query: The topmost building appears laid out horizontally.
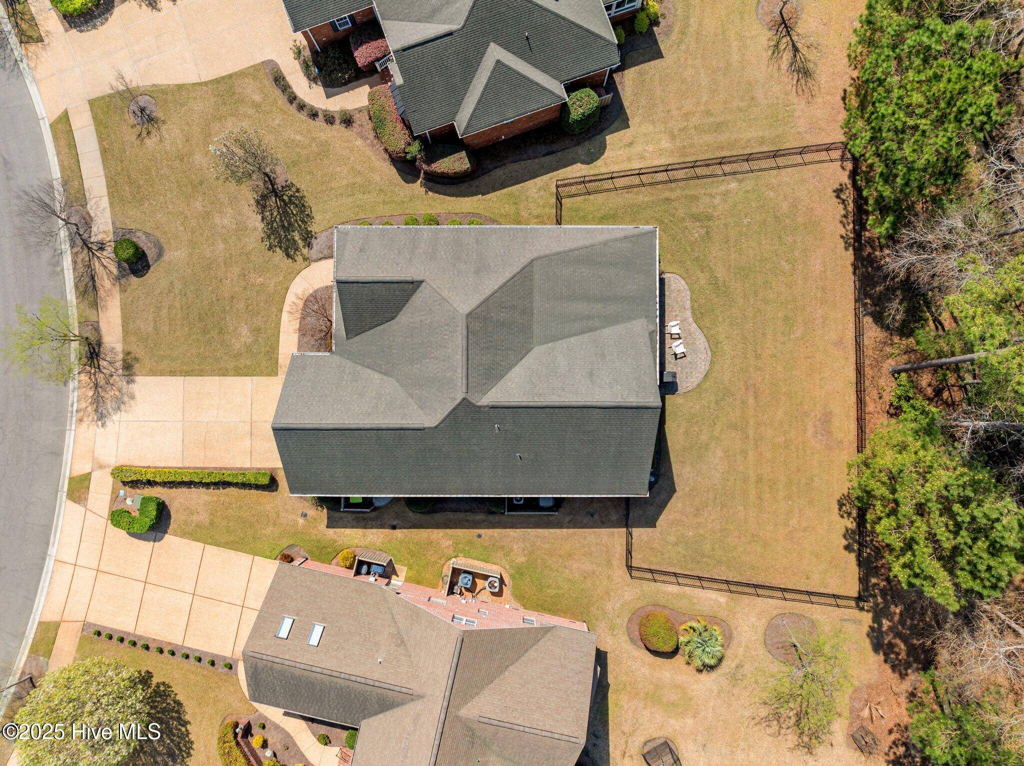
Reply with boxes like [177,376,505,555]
[282,0,623,148]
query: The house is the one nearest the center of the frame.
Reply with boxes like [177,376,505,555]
[272,226,661,498]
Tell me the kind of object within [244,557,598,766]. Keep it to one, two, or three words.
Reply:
house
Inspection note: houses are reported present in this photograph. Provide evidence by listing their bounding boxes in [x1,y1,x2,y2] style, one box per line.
[272,226,661,498]
[282,0,623,148]
[244,557,598,766]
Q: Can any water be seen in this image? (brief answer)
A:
No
